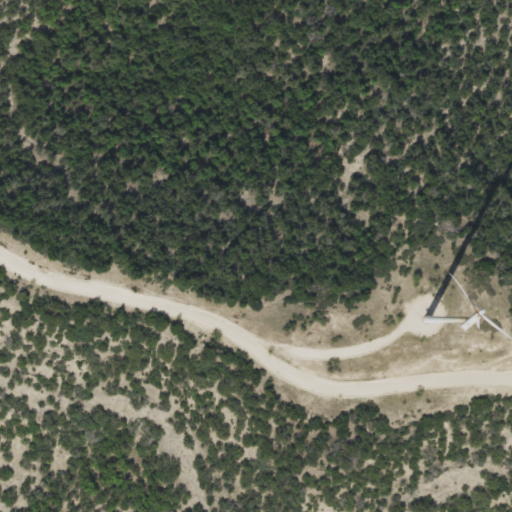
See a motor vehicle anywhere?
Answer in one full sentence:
No, there isn't any motor vehicle down there.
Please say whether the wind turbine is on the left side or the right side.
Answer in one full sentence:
It is on the right.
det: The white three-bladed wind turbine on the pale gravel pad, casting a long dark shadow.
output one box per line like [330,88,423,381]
[424,268,512,340]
